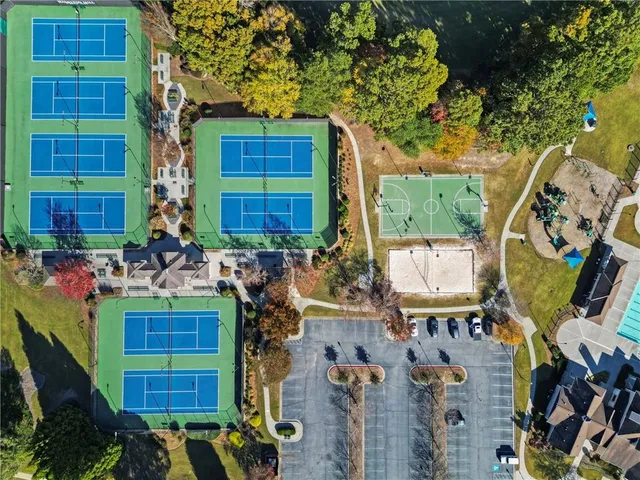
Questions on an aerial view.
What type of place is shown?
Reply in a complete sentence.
The picture captures a sports ground.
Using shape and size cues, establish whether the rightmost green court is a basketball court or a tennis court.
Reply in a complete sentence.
What you see as the rightmost green court is a basketball court.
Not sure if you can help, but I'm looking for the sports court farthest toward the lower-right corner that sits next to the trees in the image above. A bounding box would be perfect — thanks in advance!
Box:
[388,249,474,293]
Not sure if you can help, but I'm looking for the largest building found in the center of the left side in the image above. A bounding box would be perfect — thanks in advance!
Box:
[126,252,212,290]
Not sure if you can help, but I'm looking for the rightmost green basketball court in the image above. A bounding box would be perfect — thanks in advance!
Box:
[379,176,484,238]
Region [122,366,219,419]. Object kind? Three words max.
tennis court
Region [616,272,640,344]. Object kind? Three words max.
swimming pool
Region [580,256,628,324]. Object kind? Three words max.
building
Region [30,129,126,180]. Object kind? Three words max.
tennis court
